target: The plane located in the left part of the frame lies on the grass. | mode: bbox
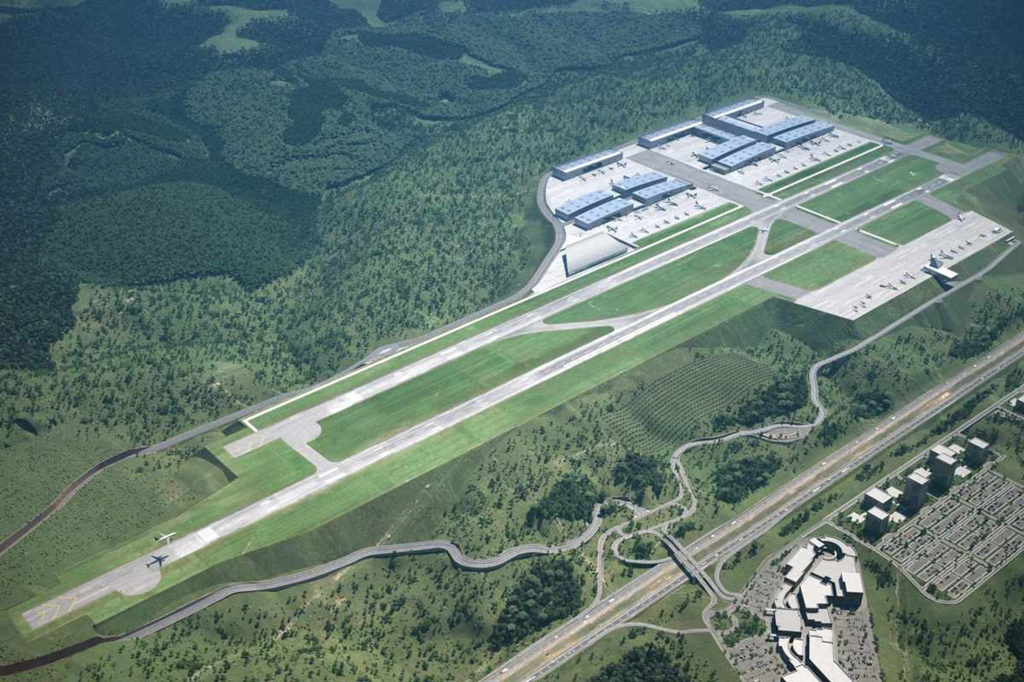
[152,530,176,544]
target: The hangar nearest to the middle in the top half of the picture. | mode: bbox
[566,232,628,276]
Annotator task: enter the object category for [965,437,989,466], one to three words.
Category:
building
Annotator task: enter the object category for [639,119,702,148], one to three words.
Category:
shed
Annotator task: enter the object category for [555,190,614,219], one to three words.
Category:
hangar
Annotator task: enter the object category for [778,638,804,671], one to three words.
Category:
building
